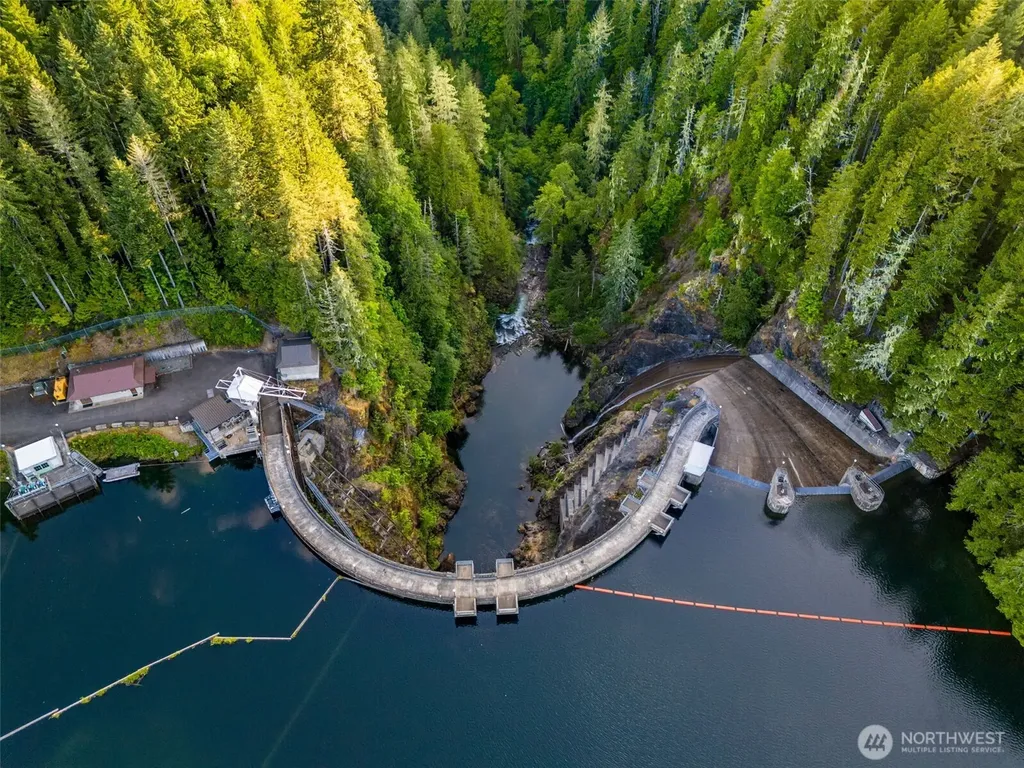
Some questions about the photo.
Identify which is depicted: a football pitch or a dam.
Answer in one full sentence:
Looking from above, you can make out a dam.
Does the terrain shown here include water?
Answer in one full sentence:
Yes, the picture does contain water.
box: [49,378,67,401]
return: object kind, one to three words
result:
vehicle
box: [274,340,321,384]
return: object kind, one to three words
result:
building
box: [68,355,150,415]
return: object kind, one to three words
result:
building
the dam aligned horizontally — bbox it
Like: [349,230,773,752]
[260,392,714,622]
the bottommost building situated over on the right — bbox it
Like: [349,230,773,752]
[682,440,714,494]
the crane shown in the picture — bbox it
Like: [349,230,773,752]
[211,363,308,426]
